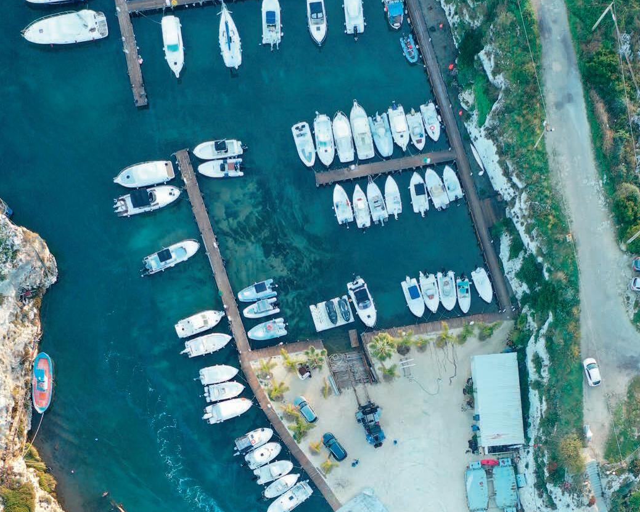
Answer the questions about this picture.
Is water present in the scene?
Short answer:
Yes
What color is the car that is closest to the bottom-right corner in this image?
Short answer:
white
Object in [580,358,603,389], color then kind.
white car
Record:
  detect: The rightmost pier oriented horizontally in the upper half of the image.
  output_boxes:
[315,151,456,187]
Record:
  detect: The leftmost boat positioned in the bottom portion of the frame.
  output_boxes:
[31,353,55,440]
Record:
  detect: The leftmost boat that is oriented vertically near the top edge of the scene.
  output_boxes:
[162,8,186,75]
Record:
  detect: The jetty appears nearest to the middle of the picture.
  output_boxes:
[311,297,353,332]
